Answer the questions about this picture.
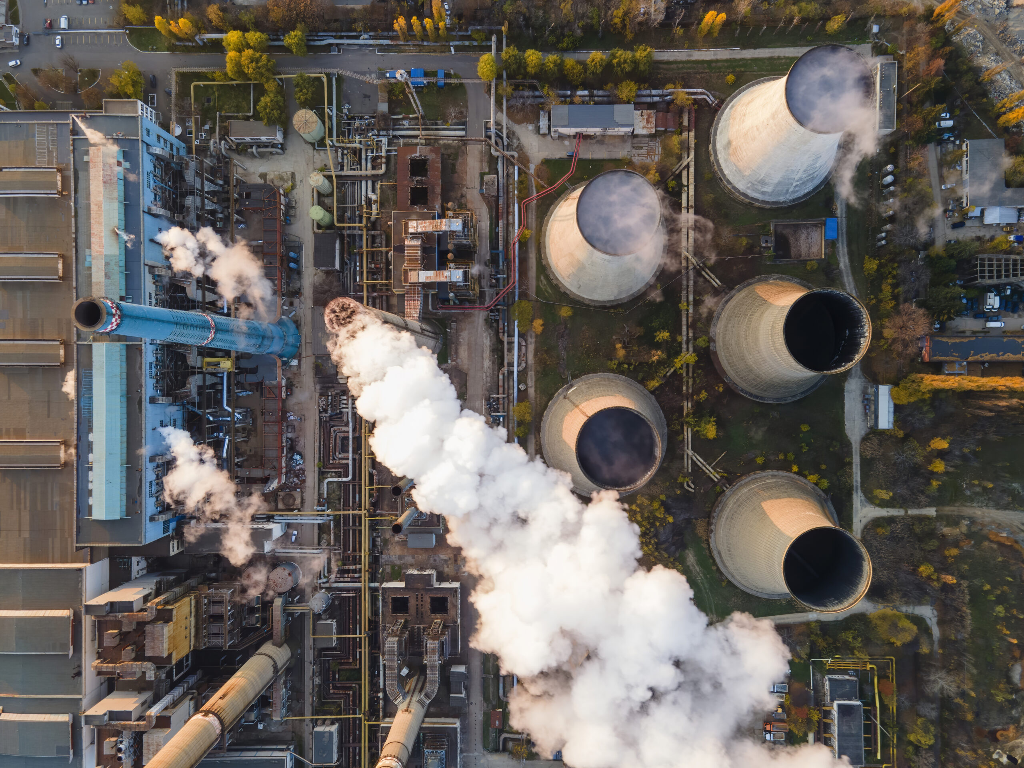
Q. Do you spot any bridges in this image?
Yes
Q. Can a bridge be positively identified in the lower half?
No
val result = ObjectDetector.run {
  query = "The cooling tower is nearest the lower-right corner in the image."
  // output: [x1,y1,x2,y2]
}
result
[710,471,872,616]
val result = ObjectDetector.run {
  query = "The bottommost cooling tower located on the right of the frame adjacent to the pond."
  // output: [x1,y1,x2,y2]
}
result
[711,274,873,402]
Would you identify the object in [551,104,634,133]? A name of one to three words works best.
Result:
shed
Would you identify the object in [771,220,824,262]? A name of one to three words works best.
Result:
pond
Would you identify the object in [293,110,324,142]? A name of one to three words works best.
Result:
storage tank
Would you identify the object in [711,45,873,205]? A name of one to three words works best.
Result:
cooling tower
